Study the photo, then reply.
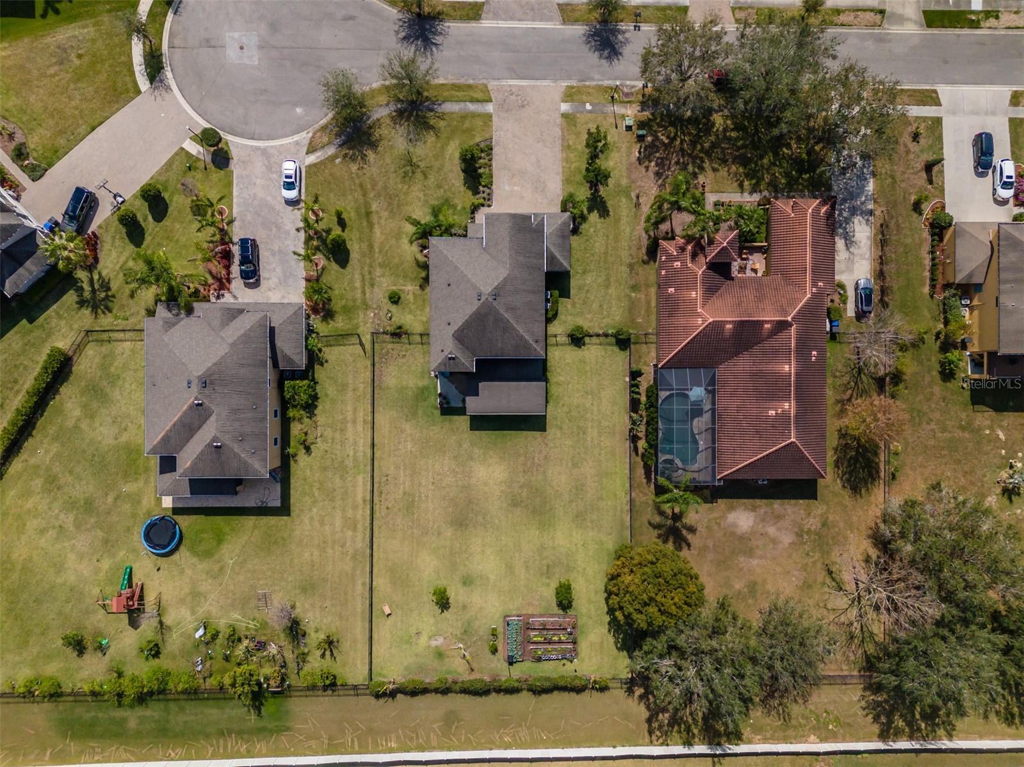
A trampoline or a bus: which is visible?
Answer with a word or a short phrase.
trampoline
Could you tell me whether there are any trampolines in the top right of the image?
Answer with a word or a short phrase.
No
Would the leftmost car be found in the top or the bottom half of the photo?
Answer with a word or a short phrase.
top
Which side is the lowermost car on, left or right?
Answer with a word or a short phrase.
right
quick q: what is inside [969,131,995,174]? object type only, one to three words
car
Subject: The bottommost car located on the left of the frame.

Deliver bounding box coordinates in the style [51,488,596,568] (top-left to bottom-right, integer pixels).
[235,240,259,284]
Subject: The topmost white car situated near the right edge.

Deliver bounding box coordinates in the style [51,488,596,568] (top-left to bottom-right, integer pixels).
[988,159,1014,202]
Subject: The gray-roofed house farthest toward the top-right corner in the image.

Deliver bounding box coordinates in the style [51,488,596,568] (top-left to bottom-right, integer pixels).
[943,221,1024,358]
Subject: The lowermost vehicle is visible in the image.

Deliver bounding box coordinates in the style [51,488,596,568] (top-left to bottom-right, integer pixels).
[850,278,875,323]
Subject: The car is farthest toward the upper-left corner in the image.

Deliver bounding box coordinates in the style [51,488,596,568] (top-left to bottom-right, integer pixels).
[62,181,98,232]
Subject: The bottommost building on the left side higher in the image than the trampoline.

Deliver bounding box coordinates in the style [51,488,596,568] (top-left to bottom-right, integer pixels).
[144,302,307,496]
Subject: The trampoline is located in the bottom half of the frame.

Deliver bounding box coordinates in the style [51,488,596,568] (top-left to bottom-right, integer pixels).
[141,519,181,557]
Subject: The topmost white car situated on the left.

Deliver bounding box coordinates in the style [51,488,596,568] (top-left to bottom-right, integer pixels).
[279,161,302,204]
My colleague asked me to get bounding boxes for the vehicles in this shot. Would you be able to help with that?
[62,181,98,232]
[969,131,995,174]
[850,278,875,323]
[988,159,1014,202]
[279,161,302,204]
[235,240,259,284]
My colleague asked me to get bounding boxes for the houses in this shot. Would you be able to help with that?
[0,183,68,303]
[429,209,570,388]
[144,302,307,496]
[658,194,837,479]
[943,221,1024,358]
